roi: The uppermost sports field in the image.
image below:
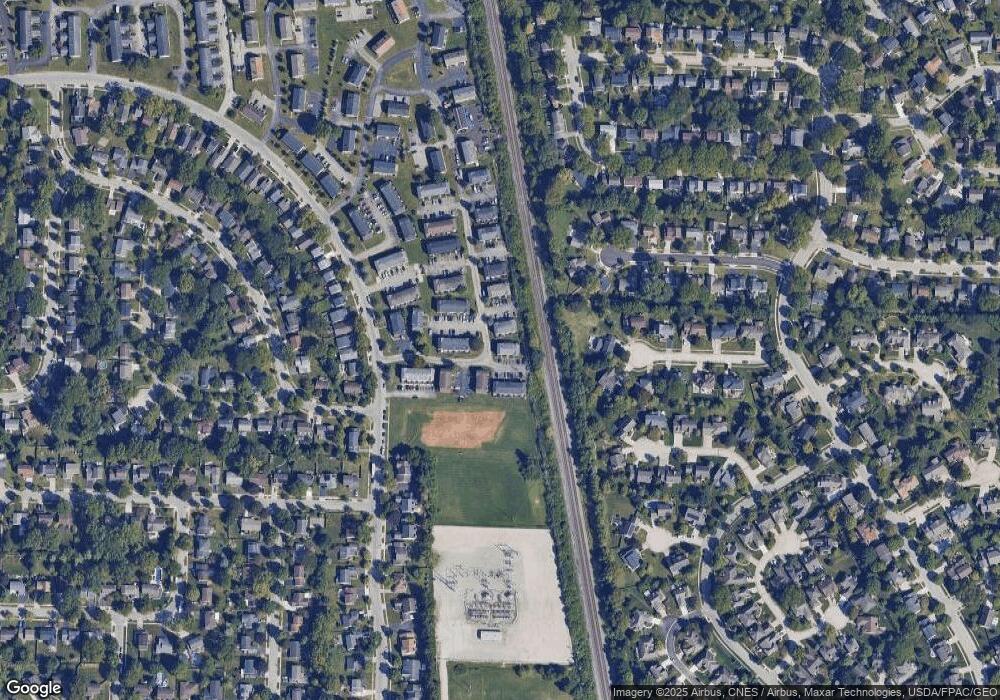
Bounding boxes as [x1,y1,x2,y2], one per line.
[388,398,537,452]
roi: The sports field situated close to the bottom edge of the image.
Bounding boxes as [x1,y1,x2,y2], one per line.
[447,664,580,700]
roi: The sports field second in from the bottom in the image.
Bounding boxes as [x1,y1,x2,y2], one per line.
[433,447,546,526]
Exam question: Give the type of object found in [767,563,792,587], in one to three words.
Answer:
house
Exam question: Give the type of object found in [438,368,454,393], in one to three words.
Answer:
building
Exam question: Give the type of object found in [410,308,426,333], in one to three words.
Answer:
building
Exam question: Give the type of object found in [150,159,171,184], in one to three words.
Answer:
house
